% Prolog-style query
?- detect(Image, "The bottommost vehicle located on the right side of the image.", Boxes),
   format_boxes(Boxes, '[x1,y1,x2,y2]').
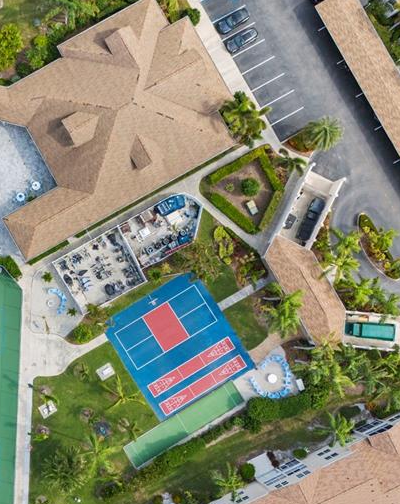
[348,320,395,341]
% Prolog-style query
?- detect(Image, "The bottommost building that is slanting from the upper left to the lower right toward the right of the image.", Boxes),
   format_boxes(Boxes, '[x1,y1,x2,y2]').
[263,234,349,347]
